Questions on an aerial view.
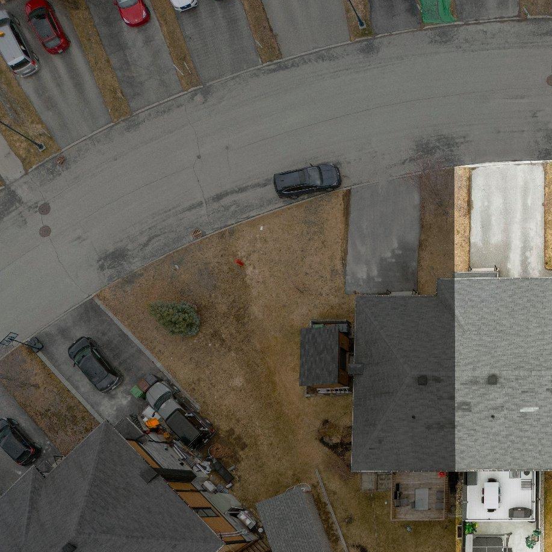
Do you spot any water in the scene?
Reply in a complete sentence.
No, there's no water in this view.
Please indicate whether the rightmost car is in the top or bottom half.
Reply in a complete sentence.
You can find the rightmost car in the top half.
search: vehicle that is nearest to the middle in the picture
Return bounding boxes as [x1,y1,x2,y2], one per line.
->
[273,159,345,201]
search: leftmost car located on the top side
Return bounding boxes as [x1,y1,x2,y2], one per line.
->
[0,6,44,81]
